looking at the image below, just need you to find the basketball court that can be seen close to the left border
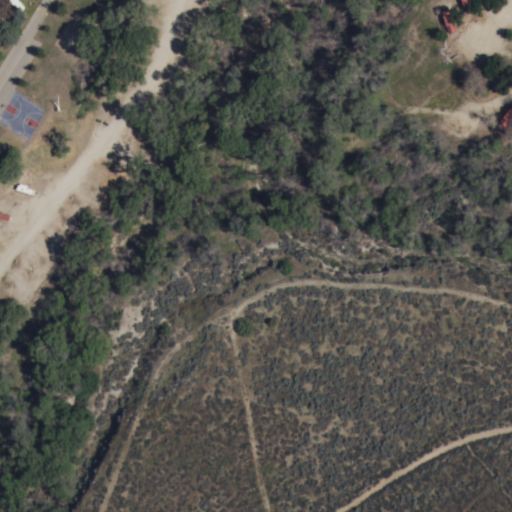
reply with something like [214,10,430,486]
[0,92,45,136]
